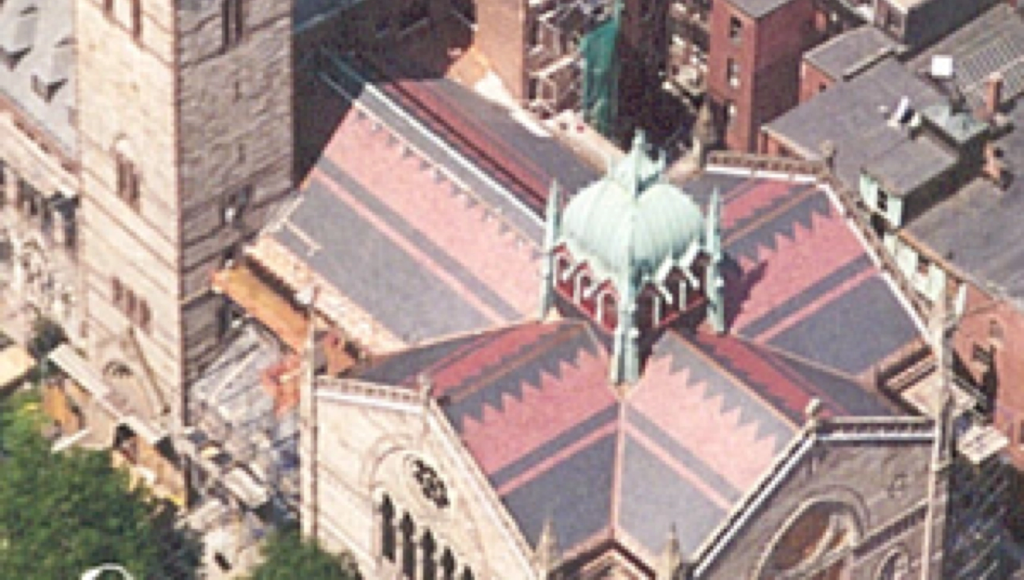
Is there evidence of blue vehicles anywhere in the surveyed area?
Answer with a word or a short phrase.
No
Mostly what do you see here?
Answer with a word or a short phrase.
buildings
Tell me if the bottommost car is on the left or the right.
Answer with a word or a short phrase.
left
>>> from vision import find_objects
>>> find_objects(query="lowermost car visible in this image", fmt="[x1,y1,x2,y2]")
[189,533,235,572]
